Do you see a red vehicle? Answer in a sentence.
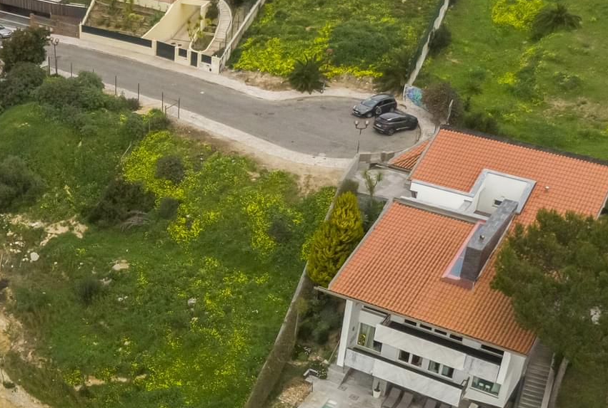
No, the scene contains no red vehicle.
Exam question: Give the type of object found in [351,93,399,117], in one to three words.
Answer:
car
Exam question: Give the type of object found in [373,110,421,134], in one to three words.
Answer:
car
